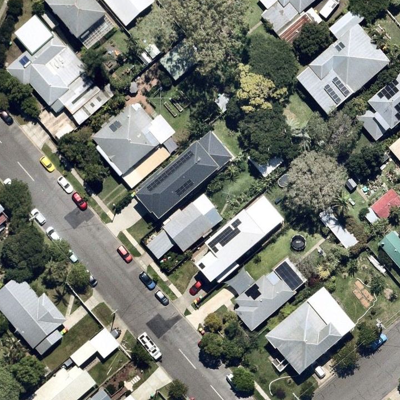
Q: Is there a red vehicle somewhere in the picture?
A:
Yes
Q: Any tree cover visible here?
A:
Yes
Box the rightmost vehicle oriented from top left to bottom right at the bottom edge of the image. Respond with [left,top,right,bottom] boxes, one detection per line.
[312,361,329,381]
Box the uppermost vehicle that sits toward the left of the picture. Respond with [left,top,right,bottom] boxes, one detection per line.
[0,107,15,127]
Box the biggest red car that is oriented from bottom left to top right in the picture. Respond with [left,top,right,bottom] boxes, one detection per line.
[186,278,206,297]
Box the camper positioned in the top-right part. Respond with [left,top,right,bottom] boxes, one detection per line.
[319,0,339,18]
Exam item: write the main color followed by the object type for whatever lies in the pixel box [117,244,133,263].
red car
